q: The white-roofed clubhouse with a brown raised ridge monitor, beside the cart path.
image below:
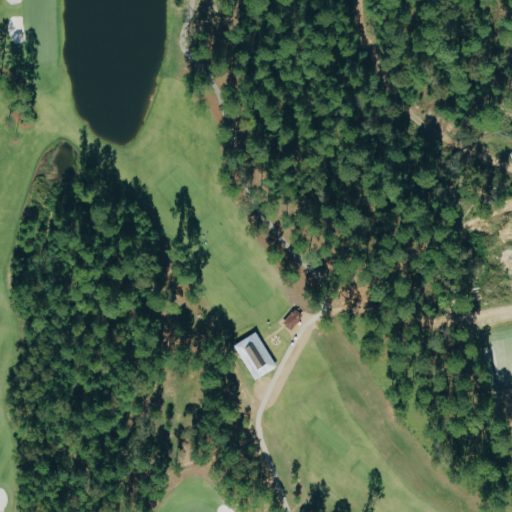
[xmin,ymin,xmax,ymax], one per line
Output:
[234,332,277,380]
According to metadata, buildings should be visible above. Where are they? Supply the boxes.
[284,310,302,330]
[234,332,277,380]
